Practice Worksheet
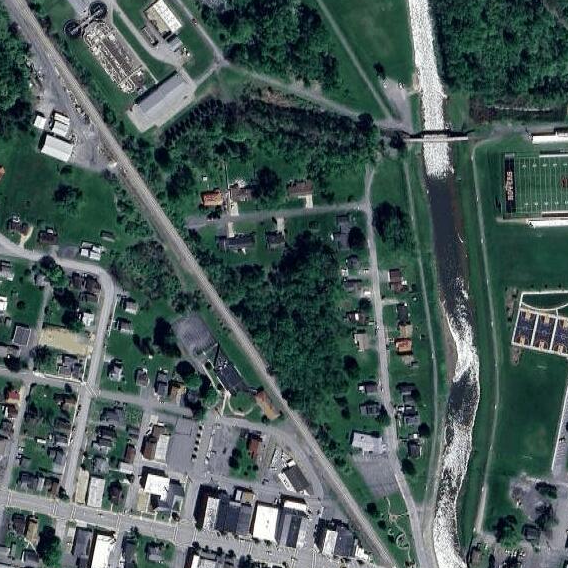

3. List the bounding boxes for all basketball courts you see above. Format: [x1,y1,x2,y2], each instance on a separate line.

[551,319,568,353]
[514,310,537,345]
[533,314,555,348]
